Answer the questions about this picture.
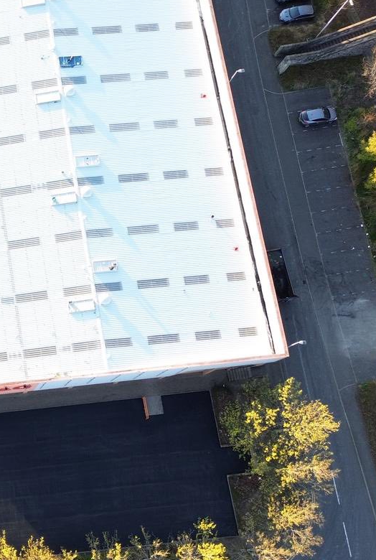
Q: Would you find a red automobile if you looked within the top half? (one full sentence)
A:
No, no red automobile can be made out within the top half.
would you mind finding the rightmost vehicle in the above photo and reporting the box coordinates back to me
[296,105,336,128]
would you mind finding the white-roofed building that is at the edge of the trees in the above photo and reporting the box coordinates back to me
[0,0,288,395]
